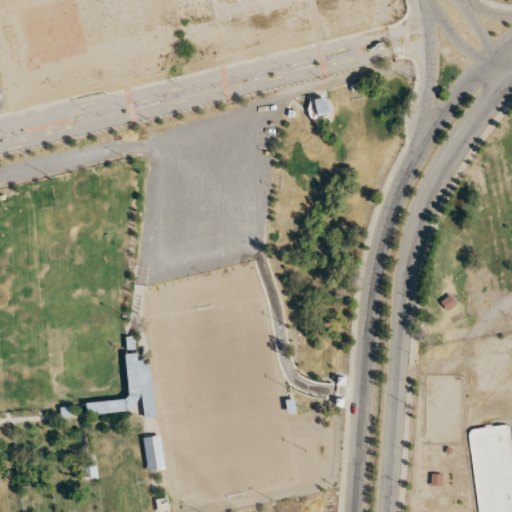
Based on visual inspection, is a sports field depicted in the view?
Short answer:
Yes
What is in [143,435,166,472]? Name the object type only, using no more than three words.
building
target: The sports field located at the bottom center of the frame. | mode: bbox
[146,264,298,510]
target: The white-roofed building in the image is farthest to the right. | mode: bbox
[468,424,512,512]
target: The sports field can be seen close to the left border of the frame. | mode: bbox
[0,160,131,414]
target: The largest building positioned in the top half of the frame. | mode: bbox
[310,97,334,122]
